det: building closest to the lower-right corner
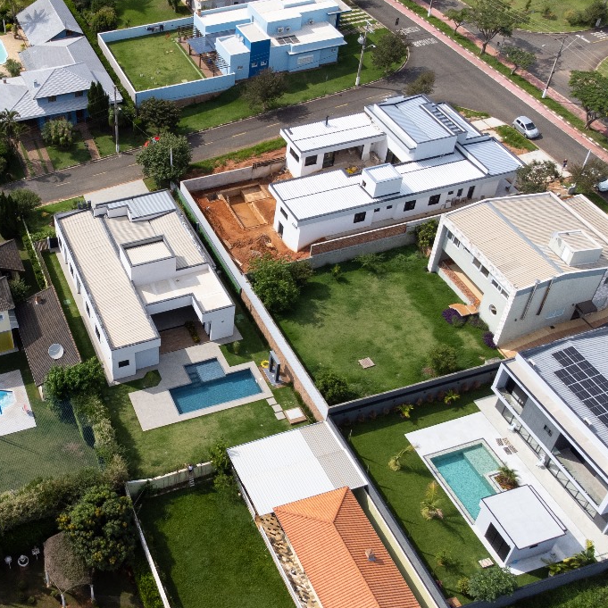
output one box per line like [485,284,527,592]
[474,485,571,567]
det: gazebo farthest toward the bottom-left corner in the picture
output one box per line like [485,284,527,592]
[44,537,94,597]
